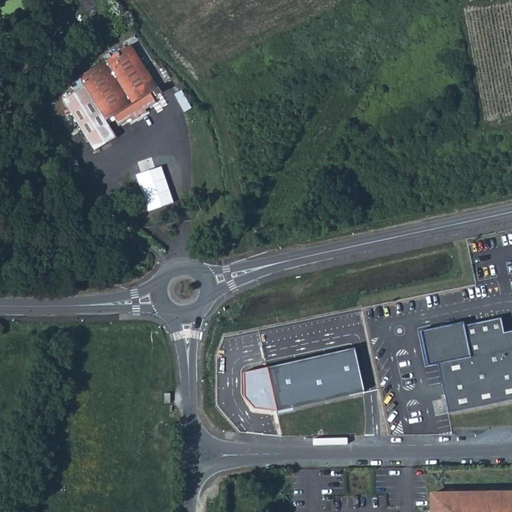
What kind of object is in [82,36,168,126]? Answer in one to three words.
house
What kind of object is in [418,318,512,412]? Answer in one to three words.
building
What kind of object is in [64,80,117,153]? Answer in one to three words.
building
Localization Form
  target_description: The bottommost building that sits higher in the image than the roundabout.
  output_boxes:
[136,158,174,211]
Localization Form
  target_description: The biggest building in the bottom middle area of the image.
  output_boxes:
[242,348,365,415]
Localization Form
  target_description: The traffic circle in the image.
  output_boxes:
[138,256,231,332]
